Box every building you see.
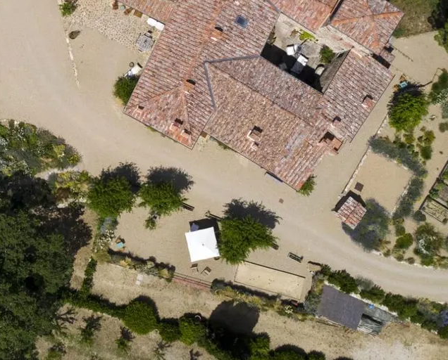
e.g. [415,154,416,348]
[110,0,405,192]
[330,197,367,229]
[312,283,365,330]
